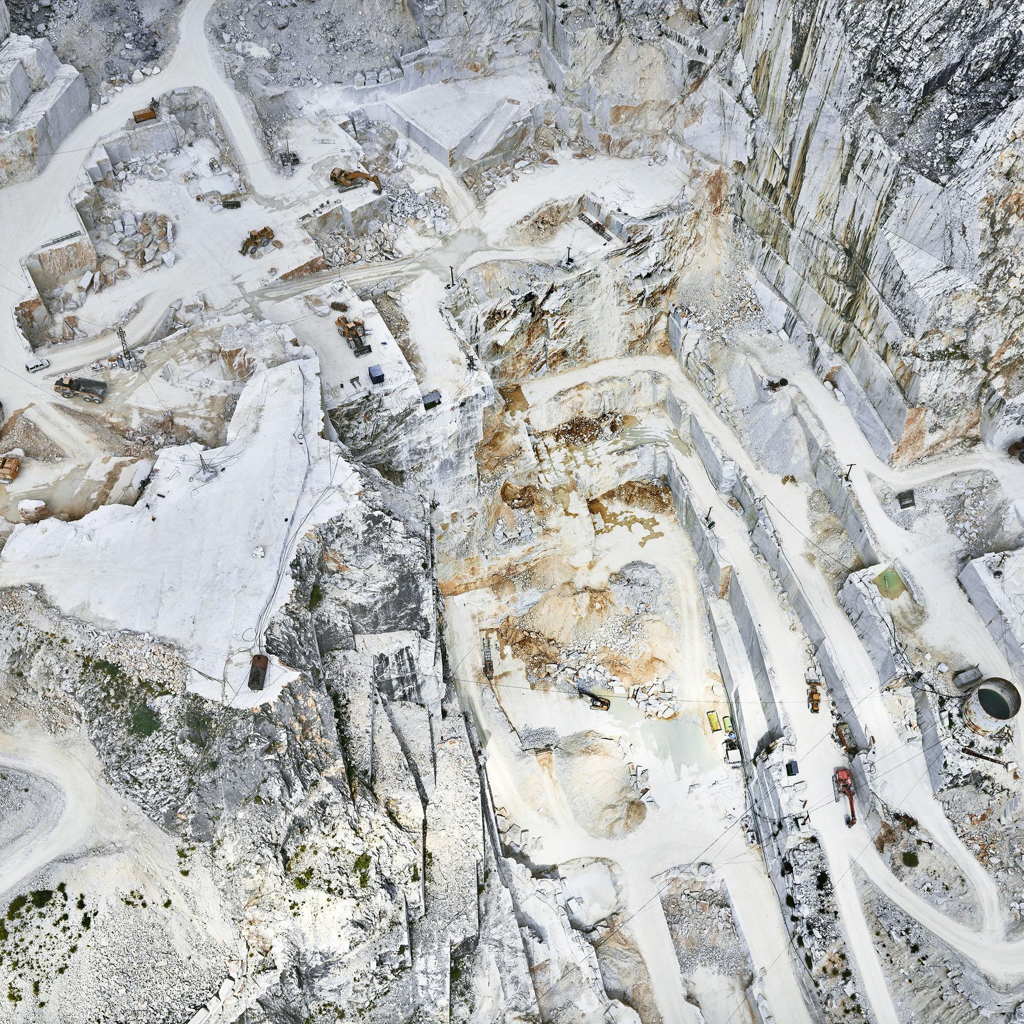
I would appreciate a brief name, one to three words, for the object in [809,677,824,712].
work vehicle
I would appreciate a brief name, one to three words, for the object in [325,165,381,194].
work vehicle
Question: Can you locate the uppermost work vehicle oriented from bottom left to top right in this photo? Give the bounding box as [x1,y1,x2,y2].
[233,226,268,261]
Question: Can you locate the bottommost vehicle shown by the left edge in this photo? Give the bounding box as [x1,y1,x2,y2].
[0,460,23,487]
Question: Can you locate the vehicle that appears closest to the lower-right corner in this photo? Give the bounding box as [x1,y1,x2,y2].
[834,772,857,828]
